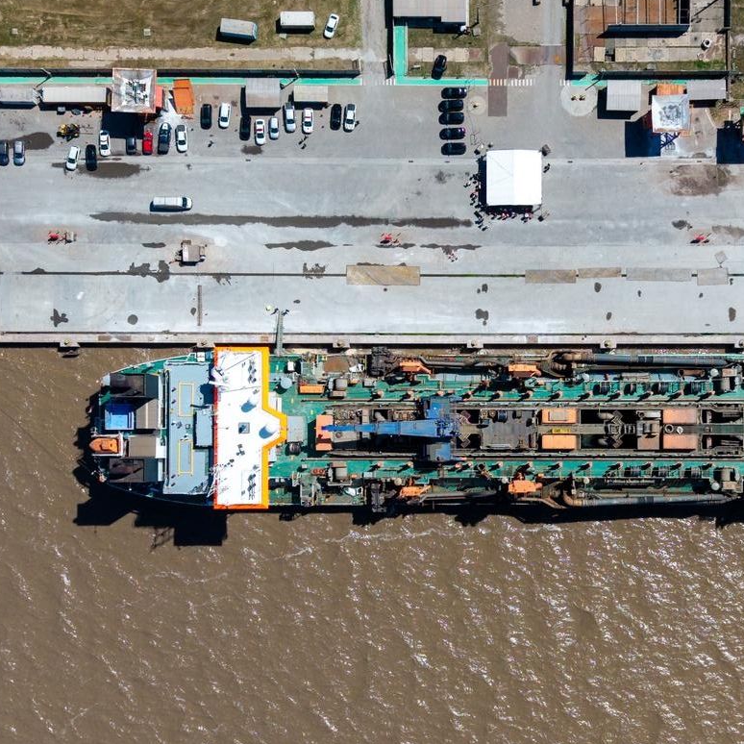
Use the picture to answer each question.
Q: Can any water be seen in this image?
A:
Yes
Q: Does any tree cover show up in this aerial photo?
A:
No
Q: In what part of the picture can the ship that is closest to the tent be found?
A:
center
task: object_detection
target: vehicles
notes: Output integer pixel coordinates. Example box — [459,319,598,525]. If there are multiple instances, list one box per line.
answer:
[440,142,467,155]
[343,102,356,133]
[253,119,266,145]
[329,103,343,131]
[199,103,212,131]
[324,12,340,41]
[65,146,80,172]
[438,112,464,125]
[12,142,25,166]
[239,114,252,142]
[58,125,89,139]
[217,101,232,130]
[438,98,466,112]
[301,108,314,136]
[98,130,112,157]
[432,53,448,80]
[282,102,296,133]
[142,125,155,156]
[440,86,467,98]
[157,124,172,155]
[151,196,191,210]
[440,127,467,140]
[84,144,98,172]
[0,139,10,167]
[175,122,188,155]
[268,116,281,142]
[125,134,138,158]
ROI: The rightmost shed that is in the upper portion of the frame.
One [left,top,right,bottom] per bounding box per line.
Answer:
[684,79,726,102]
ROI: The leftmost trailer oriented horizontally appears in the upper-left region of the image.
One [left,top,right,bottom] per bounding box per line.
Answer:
[0,88,41,103]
